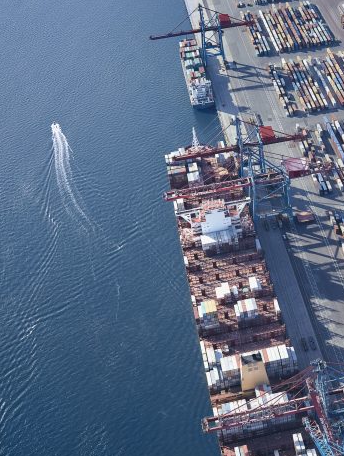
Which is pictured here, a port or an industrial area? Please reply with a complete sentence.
What you see here is a port.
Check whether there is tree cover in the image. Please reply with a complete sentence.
No, the scene doesn't show any tree cover.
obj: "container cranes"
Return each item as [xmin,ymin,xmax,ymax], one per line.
[162,145,340,233]
[294,385,344,456]
[148,0,252,66]
[201,356,344,443]
[173,114,302,191]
